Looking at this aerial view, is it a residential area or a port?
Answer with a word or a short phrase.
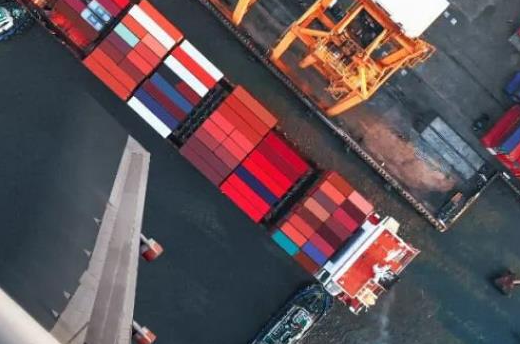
port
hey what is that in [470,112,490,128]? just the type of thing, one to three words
car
